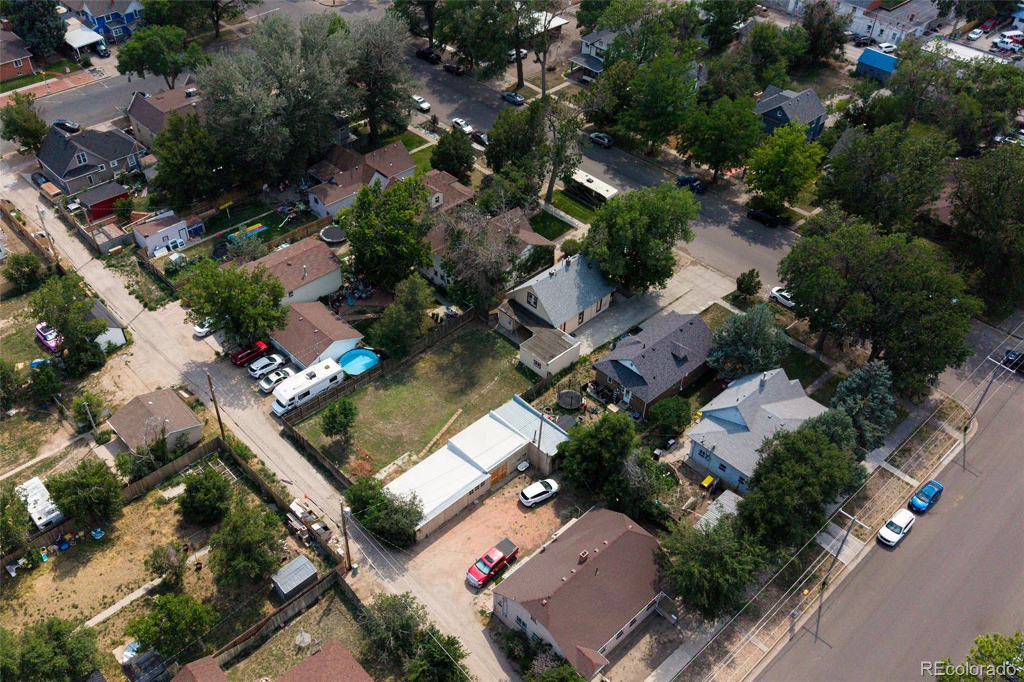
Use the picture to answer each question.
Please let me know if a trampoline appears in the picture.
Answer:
Yes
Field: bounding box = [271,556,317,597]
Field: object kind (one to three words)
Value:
shed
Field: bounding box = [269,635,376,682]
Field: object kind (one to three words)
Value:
house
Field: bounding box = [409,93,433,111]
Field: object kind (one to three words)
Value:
car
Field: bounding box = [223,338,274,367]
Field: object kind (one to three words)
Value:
truck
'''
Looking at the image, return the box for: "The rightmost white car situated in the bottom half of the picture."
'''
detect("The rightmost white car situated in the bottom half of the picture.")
[877,507,916,548]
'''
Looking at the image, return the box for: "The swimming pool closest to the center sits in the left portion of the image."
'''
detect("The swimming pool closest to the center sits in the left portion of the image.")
[339,348,379,381]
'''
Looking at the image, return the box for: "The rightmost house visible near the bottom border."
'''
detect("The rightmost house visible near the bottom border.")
[485,506,700,682]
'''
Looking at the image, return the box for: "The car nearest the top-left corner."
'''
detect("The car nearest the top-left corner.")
[92,41,112,57]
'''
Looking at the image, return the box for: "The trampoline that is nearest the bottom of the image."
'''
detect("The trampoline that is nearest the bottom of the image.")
[555,378,586,415]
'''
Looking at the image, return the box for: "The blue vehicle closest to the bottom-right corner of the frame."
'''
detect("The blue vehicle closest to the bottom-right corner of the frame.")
[910,482,942,517]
